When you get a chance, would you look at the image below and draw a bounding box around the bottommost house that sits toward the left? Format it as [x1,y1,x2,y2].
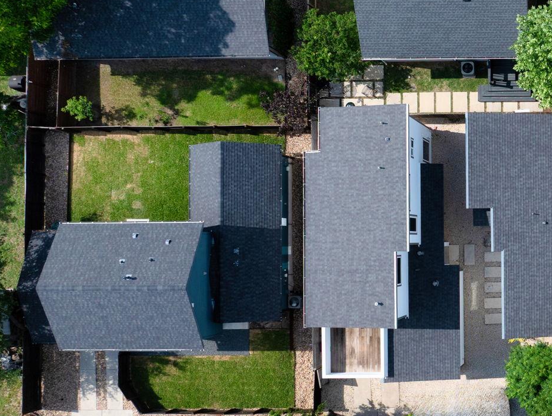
[18,142,297,357]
